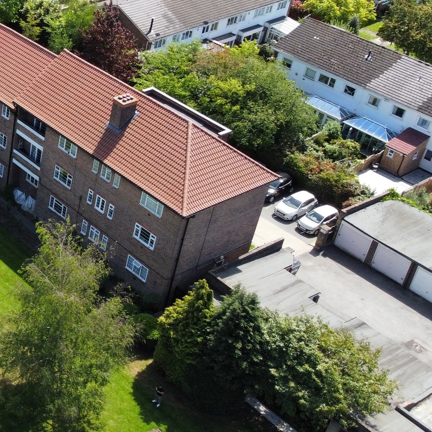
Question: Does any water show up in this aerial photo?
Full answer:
No, there's no water in this view.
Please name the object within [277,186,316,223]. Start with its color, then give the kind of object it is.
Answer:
white car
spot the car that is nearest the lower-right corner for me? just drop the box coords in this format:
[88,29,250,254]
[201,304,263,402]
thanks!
[301,202,339,236]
